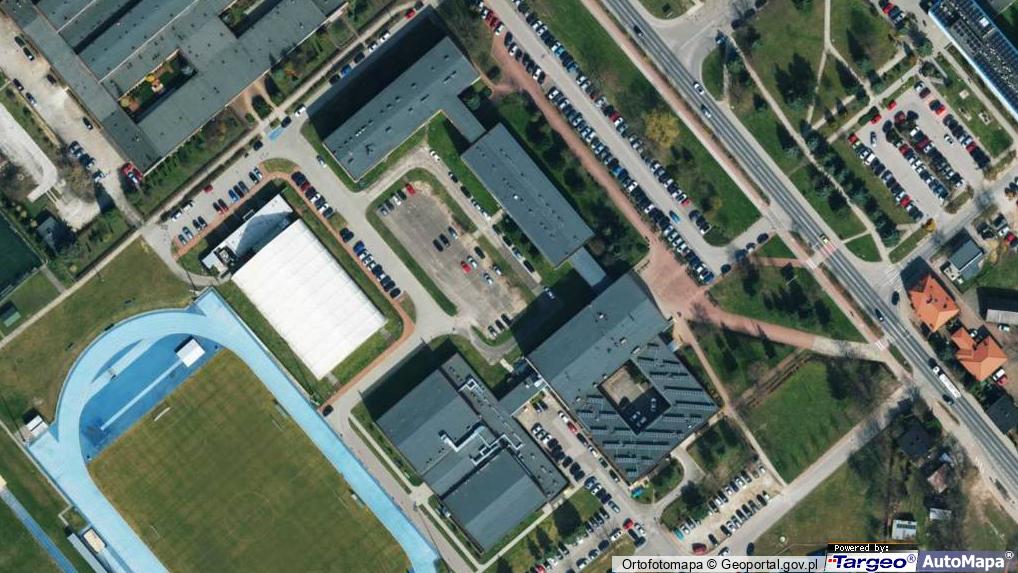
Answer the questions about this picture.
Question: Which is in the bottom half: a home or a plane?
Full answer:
What appears in the bottom half is a home.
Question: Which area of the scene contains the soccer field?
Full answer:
The soccer field is located in the bottom left region of the scene.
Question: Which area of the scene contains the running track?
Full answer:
The running track appears toward the bottom left of the photo.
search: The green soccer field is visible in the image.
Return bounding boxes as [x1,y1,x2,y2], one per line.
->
[85,347,412,573]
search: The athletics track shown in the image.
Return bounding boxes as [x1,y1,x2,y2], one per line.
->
[29,285,439,573]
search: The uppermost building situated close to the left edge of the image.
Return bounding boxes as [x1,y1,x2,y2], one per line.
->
[0,0,352,173]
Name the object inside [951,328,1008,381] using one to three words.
house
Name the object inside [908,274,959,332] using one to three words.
house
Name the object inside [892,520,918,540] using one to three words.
building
